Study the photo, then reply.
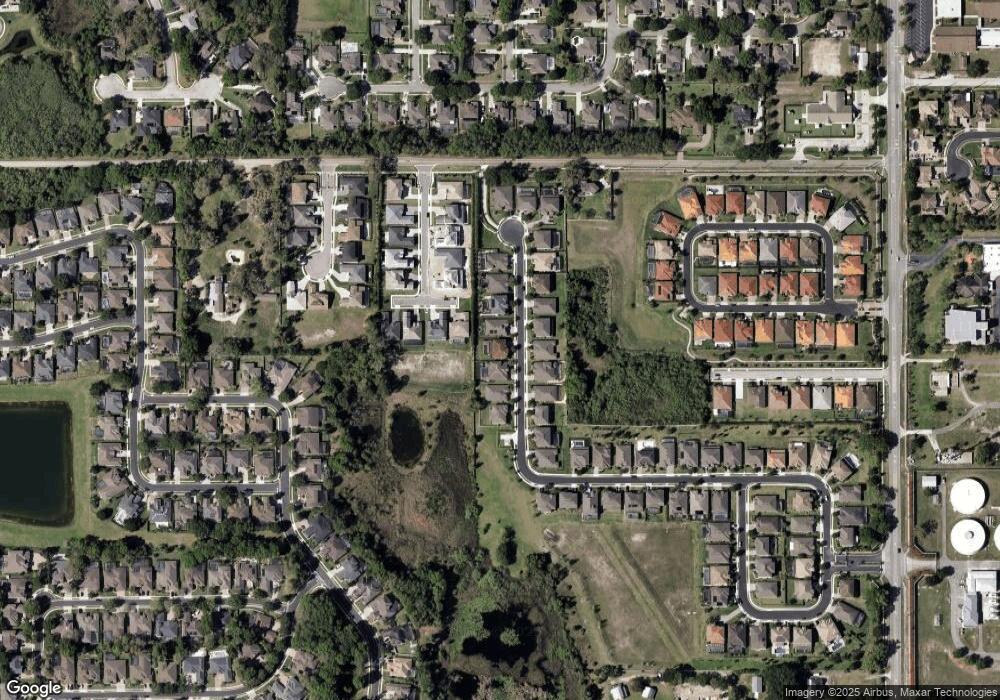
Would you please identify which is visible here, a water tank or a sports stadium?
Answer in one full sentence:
Looking from above, you can make out a water tank.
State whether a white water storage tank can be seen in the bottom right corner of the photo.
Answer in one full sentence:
Yes, a white water storage tank can be seen in the bottom right corner of the photo.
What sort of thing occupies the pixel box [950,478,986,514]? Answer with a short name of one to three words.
water tank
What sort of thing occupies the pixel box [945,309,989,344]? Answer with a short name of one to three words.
building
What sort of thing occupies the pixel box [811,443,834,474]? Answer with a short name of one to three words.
house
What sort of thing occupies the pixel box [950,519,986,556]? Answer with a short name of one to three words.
water tank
